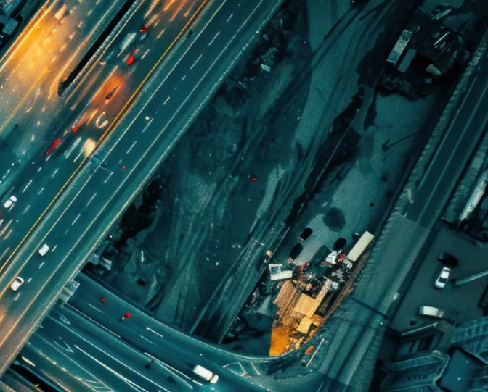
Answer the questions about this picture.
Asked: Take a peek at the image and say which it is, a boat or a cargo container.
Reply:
cargo container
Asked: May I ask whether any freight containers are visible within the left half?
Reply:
No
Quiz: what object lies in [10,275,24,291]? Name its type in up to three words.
vehicle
